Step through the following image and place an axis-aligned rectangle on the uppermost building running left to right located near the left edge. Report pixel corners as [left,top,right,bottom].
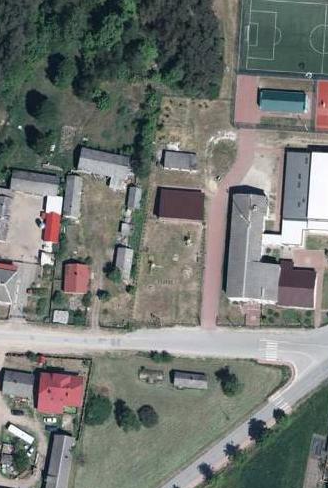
[11,169,60,196]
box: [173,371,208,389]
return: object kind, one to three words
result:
shed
